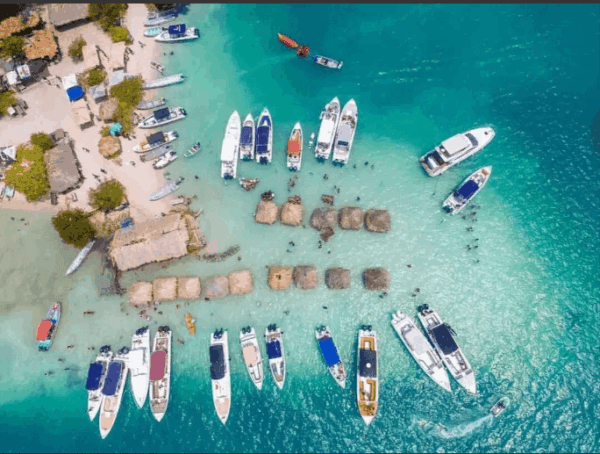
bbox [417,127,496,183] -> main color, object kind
white boat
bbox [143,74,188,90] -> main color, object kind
white boat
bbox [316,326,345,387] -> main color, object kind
blue boat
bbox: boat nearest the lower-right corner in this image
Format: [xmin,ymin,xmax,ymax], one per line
[489,397,508,417]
